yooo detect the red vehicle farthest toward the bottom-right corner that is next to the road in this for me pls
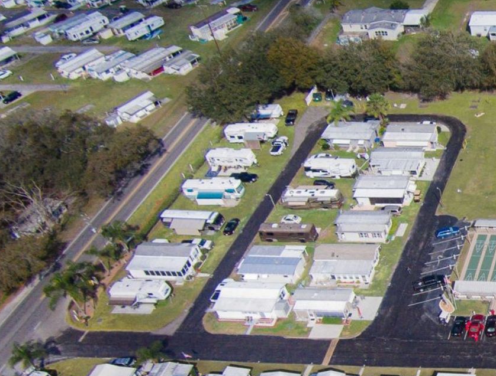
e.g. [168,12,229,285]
[467,316,483,338]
